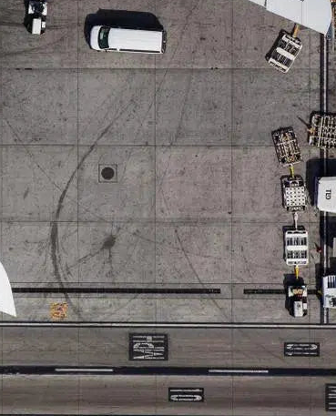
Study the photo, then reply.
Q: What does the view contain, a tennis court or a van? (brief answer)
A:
van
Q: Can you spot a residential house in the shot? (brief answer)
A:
No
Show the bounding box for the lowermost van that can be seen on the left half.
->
[91,22,166,53]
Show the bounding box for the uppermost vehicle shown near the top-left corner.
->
[29,0,47,34]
